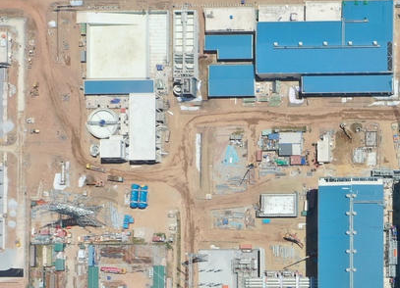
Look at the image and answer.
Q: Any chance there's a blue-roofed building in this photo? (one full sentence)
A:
Yes, there's a blue-roofed building here.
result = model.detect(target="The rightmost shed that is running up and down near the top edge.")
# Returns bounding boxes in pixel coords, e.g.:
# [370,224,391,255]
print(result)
[149,13,170,64]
